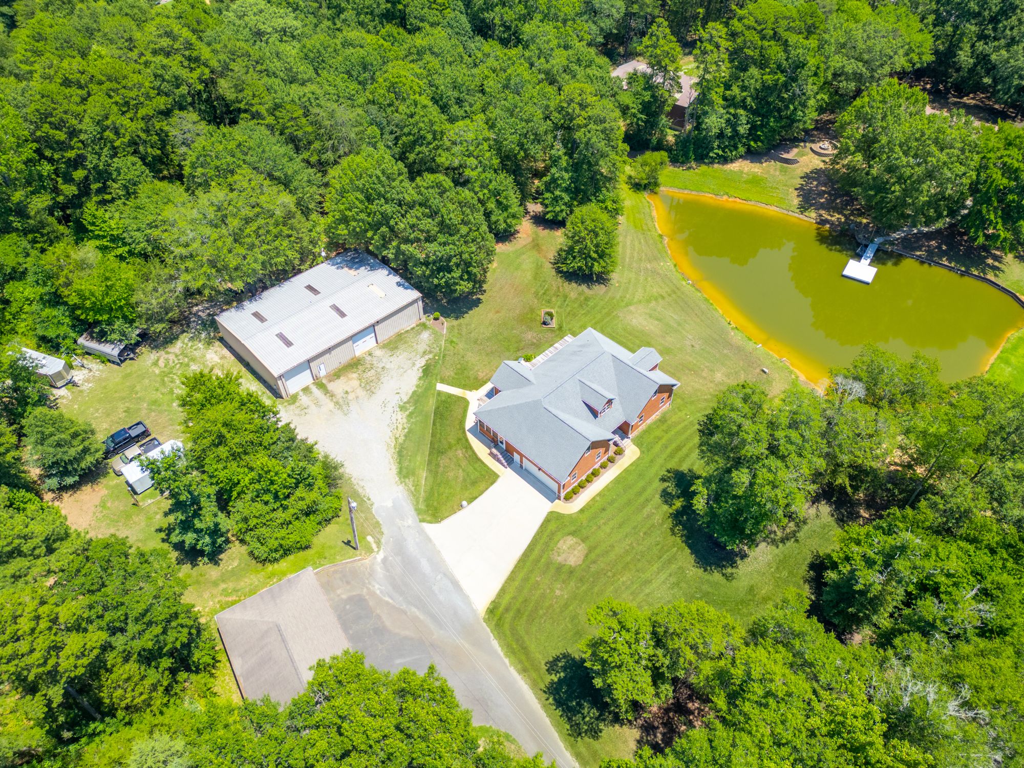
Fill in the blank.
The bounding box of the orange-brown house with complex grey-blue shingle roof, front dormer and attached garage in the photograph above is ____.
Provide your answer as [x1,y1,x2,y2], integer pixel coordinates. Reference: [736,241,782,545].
[472,327,680,499]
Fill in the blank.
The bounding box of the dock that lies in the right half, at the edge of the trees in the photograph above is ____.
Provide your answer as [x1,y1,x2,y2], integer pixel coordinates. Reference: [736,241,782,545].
[842,243,878,285]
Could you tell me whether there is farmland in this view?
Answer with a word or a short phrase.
No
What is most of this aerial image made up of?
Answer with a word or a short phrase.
trees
